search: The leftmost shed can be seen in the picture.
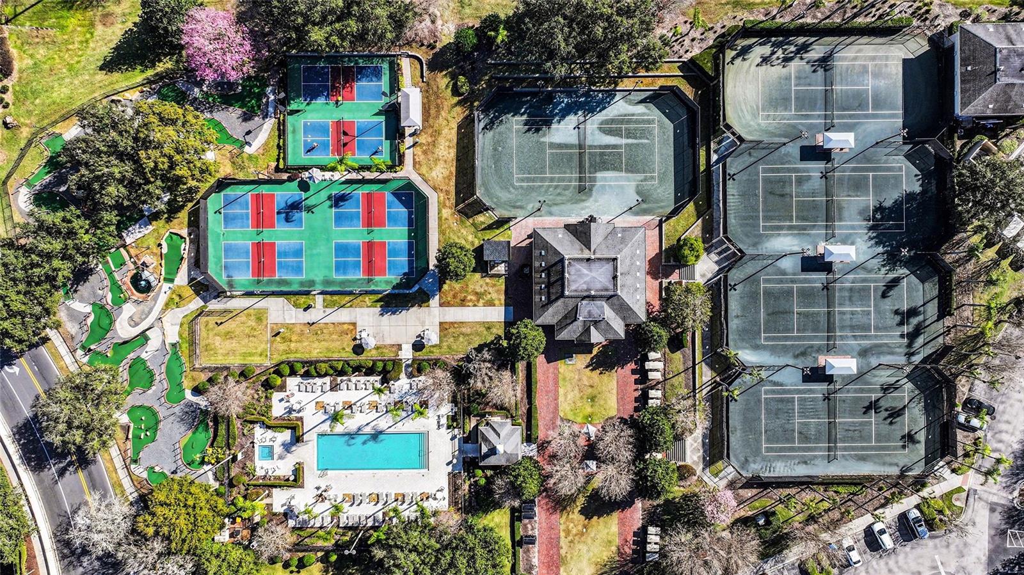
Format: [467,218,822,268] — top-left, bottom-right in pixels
[224,516,252,543]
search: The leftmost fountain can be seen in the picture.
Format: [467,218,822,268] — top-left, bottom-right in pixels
[124,264,158,298]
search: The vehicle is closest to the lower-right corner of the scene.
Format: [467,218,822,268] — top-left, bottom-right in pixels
[905,509,928,539]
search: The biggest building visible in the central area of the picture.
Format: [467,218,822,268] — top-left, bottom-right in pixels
[533,223,647,344]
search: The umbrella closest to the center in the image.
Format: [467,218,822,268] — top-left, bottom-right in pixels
[424,331,437,345]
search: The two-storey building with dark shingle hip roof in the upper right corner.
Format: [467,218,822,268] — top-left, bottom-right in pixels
[951,23,1024,116]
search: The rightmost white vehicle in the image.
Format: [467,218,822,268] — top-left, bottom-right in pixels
[967,415,987,433]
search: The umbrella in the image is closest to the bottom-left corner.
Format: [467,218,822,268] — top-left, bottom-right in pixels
[283,506,297,521]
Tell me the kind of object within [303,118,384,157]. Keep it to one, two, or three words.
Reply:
sports court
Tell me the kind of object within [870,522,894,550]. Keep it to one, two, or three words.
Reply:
car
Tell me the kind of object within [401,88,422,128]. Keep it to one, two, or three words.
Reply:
building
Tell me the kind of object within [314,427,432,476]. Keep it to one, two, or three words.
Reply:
swimming pool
